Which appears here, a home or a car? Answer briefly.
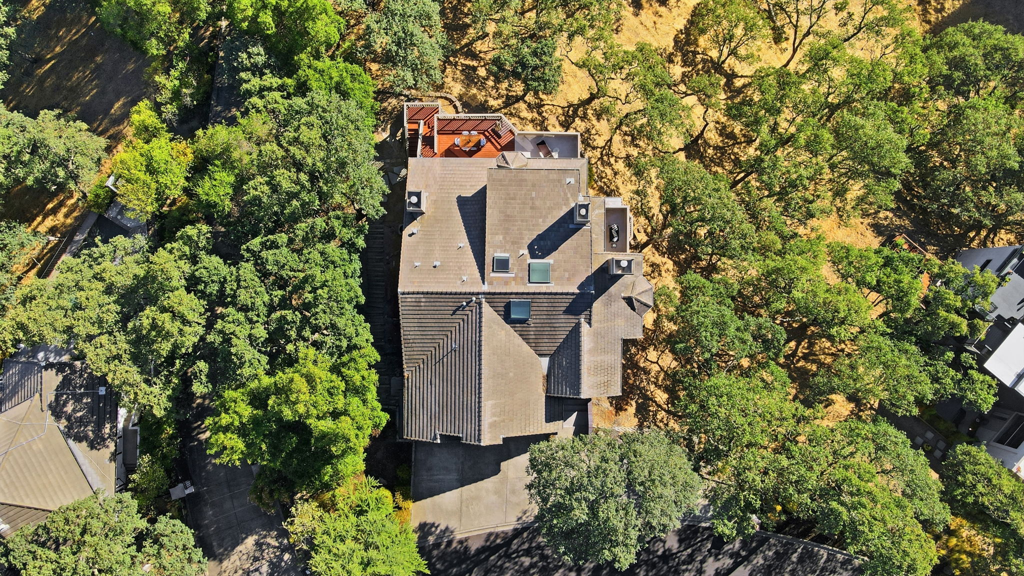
home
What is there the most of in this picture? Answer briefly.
trees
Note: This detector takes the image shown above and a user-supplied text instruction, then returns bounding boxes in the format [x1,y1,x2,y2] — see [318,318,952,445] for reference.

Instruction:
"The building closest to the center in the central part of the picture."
[397,151,654,448]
